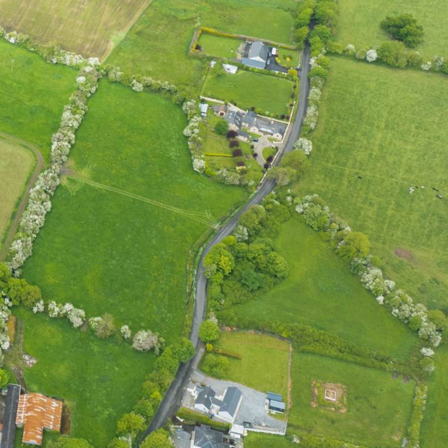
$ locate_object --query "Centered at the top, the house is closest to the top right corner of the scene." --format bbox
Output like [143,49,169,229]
[241,42,269,74]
